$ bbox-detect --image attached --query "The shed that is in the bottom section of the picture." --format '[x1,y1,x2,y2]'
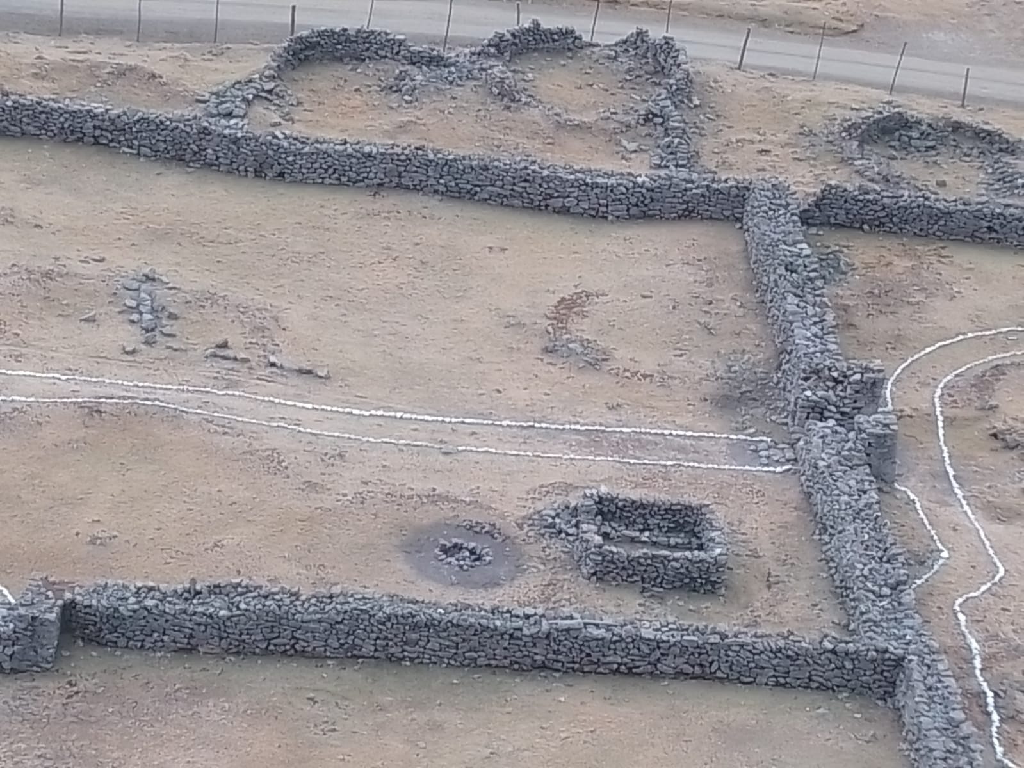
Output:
[580,491,736,597]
